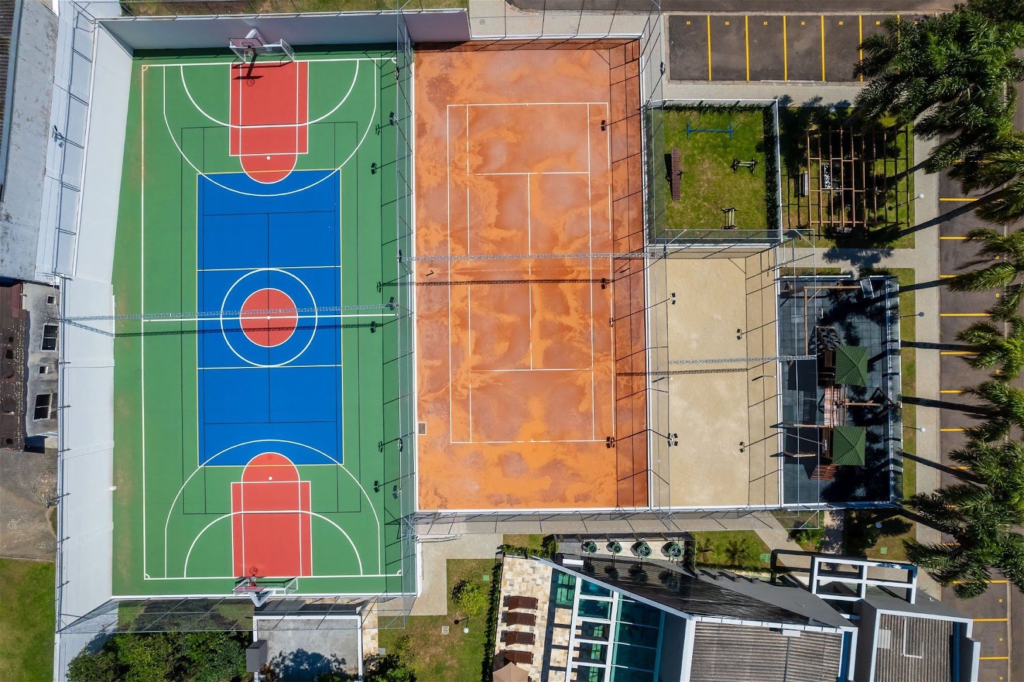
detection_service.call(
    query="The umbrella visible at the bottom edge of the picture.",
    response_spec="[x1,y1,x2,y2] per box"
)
[491,661,531,682]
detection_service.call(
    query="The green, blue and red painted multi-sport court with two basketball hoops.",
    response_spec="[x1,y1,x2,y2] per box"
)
[112,41,416,594]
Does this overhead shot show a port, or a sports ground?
sports ground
